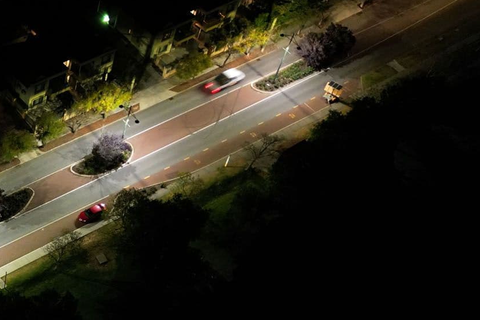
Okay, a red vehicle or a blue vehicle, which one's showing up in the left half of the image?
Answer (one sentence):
Visible in the left half of the image is a red vehicle.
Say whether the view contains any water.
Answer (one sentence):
No, there is no water in the image.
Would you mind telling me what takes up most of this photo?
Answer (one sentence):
The scene is dominated by trees.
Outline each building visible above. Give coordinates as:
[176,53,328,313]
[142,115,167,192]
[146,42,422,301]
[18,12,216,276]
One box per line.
[115,0,246,58]
[0,0,133,110]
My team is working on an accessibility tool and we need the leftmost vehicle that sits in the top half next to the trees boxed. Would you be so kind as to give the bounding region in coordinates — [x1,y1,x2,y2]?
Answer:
[208,71,242,92]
